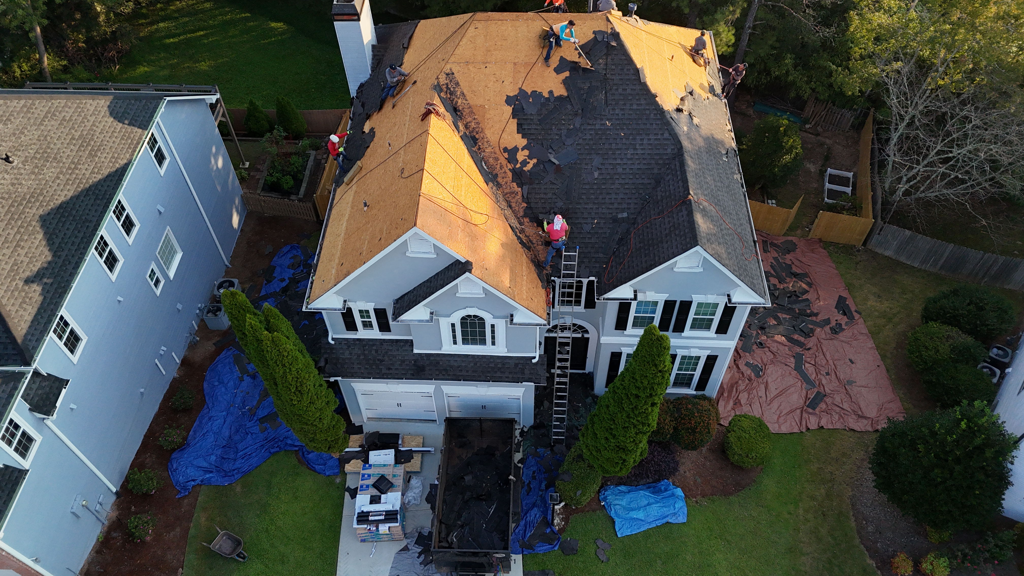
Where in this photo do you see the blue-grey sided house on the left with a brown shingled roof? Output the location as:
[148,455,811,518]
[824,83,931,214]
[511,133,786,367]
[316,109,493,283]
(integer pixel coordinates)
[0,92,246,576]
